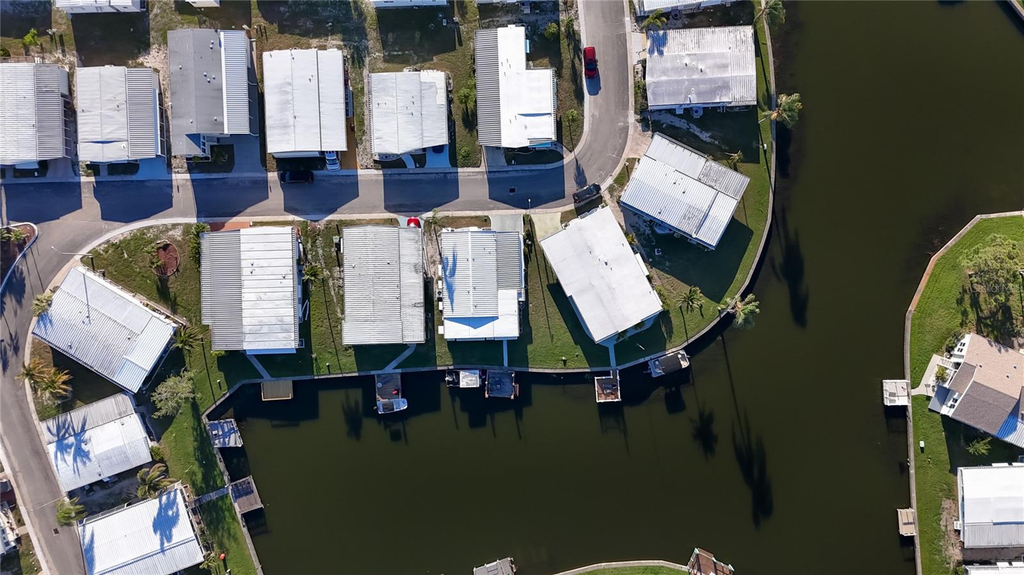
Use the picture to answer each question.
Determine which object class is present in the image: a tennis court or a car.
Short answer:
car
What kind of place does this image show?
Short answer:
residential area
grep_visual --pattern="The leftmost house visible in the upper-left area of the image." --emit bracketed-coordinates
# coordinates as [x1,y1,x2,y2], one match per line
[0,63,77,168]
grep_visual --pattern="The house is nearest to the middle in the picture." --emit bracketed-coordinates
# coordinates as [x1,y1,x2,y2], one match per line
[438,226,524,341]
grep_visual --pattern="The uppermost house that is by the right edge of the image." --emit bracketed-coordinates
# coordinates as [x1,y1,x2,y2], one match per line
[927,333,1024,449]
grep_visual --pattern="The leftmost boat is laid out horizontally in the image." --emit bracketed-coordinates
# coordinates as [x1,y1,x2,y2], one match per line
[373,400,409,416]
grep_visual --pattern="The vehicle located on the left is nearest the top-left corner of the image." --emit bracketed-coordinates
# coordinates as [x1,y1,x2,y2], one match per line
[279,168,313,184]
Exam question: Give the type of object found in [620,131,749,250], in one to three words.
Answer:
house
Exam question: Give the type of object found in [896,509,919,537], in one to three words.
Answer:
pier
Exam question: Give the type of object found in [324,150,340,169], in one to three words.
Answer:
car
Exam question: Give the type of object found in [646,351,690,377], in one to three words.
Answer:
boat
